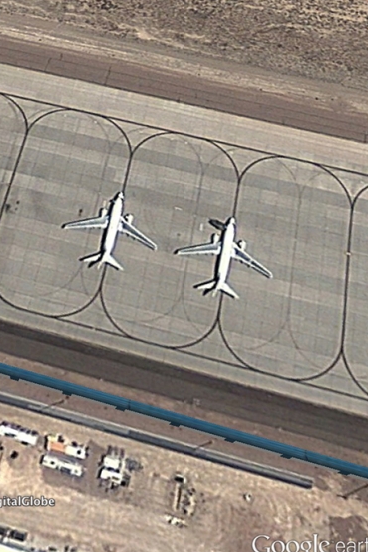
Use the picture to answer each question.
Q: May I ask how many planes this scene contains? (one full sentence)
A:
Looking from above, you can make out 2 planes.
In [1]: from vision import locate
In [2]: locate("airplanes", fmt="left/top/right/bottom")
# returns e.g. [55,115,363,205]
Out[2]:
[63,190,157,271]
[178,217,276,300]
